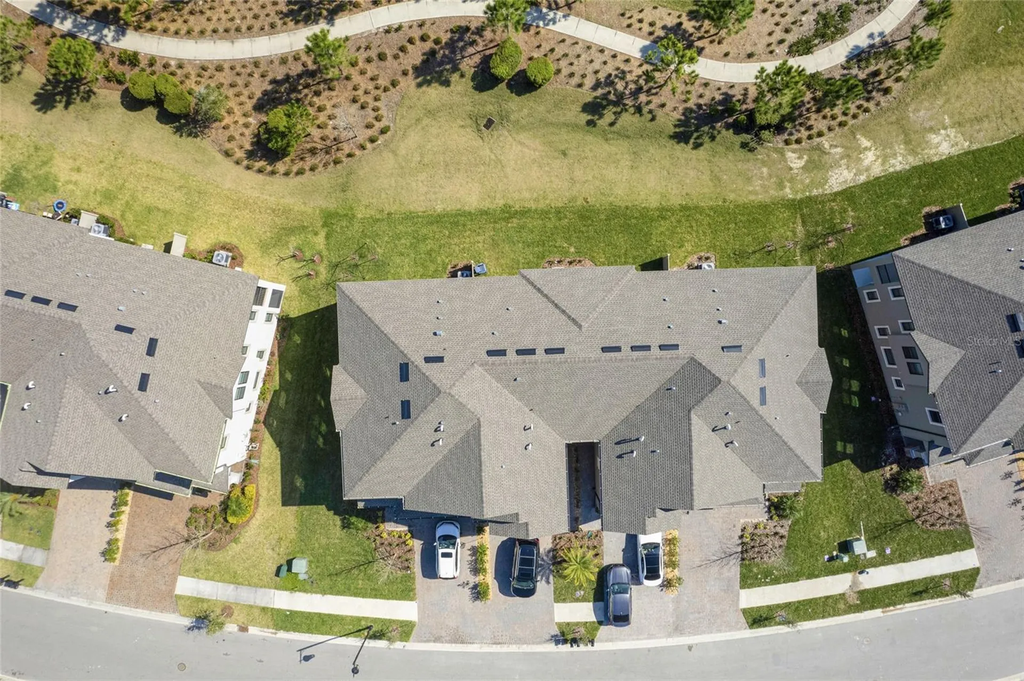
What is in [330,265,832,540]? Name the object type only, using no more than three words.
house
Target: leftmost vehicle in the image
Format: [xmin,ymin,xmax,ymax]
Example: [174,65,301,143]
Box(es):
[434,520,462,579]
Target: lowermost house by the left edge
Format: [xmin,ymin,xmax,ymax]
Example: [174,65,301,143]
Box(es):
[0,208,283,502]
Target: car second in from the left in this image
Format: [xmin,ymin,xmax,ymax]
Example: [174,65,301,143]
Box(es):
[510,538,539,596]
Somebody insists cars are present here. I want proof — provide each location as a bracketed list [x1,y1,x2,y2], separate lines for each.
[434,520,462,579]
[635,533,664,587]
[604,562,634,627]
[510,538,539,596]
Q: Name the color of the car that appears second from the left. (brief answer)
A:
black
